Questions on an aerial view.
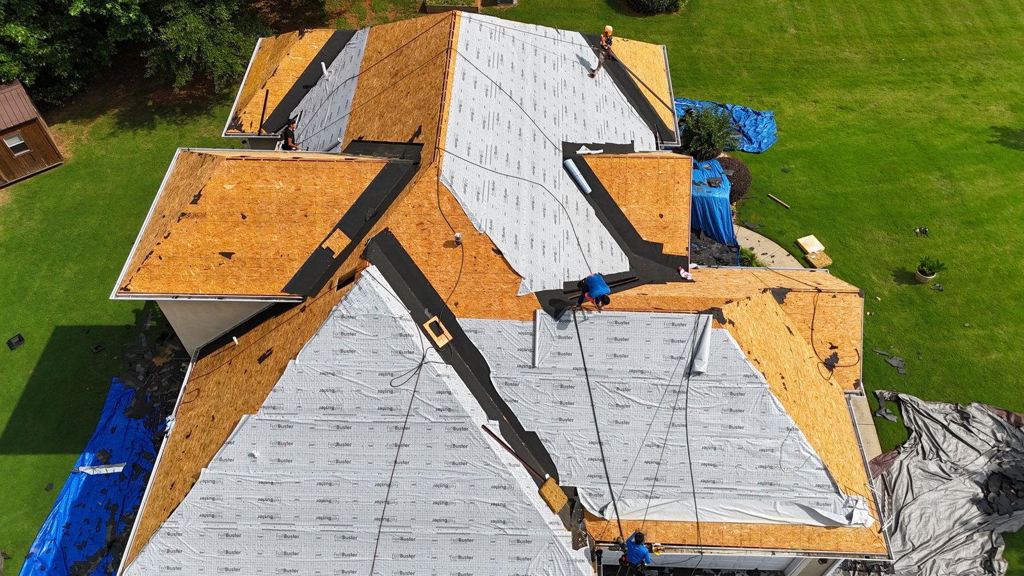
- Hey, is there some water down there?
No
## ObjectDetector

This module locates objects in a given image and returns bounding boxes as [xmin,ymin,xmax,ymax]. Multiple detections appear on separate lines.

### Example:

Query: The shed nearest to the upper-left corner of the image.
[0,79,63,186]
